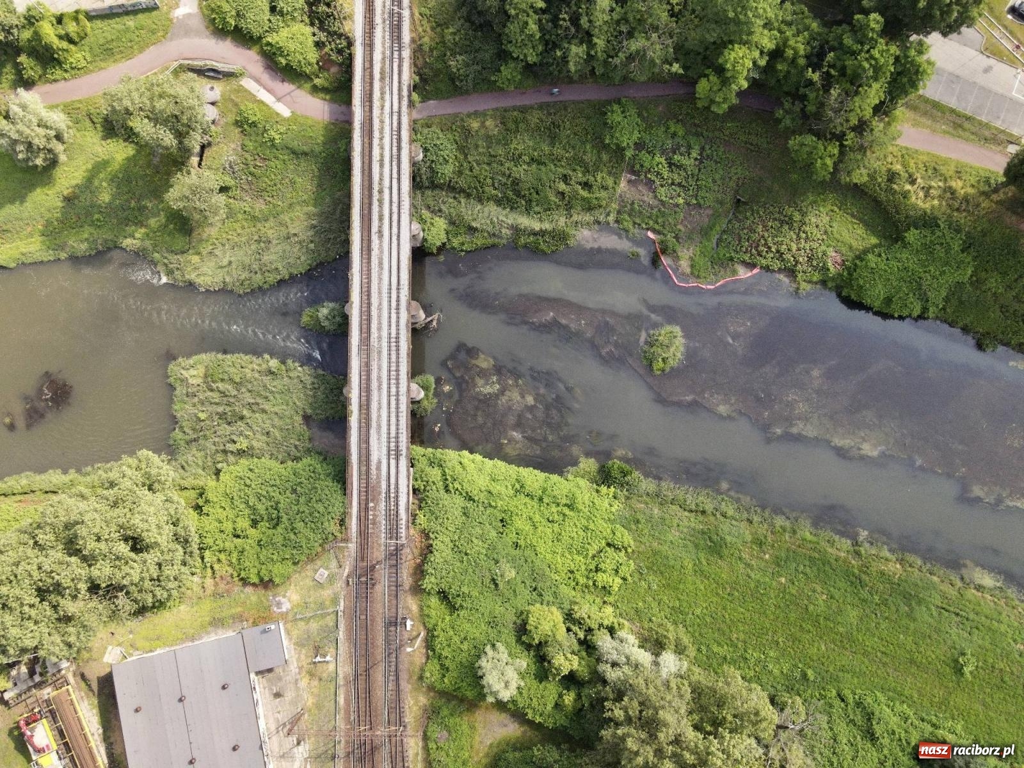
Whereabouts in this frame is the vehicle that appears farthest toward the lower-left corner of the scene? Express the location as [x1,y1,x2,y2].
[15,710,68,768]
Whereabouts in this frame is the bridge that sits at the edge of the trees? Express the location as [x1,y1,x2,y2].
[343,0,427,542]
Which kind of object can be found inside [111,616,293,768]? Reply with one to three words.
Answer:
building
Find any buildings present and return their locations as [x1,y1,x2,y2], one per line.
[23,0,162,19]
[111,616,293,768]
